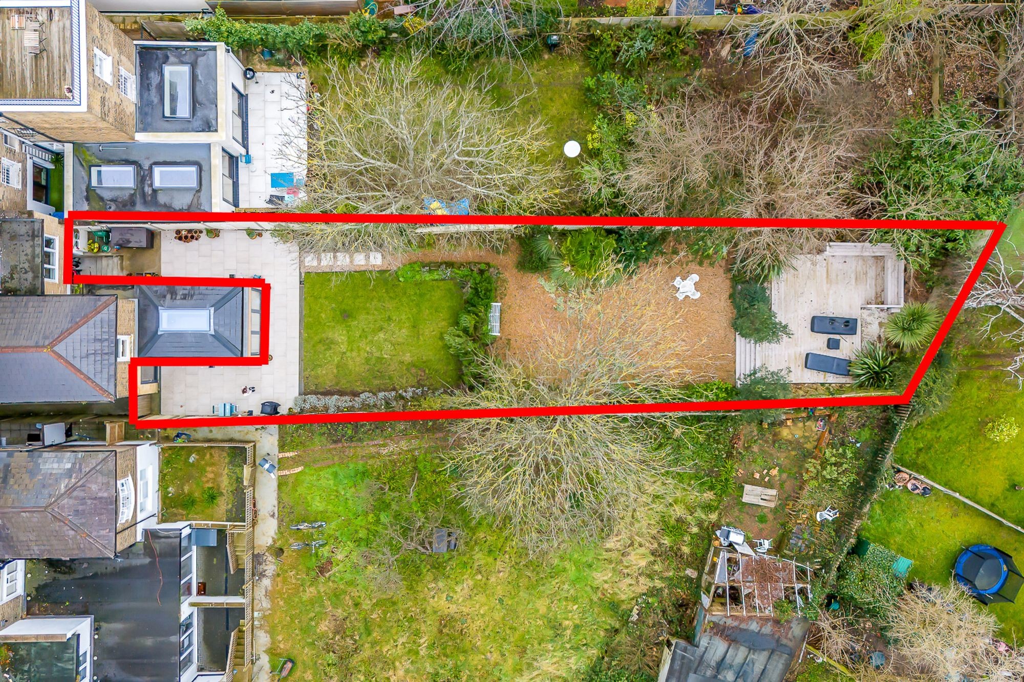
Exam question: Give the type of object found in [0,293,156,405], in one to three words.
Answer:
house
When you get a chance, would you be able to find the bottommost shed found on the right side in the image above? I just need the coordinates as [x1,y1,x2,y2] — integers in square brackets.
[660,610,814,682]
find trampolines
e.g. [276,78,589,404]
[951,542,1023,602]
